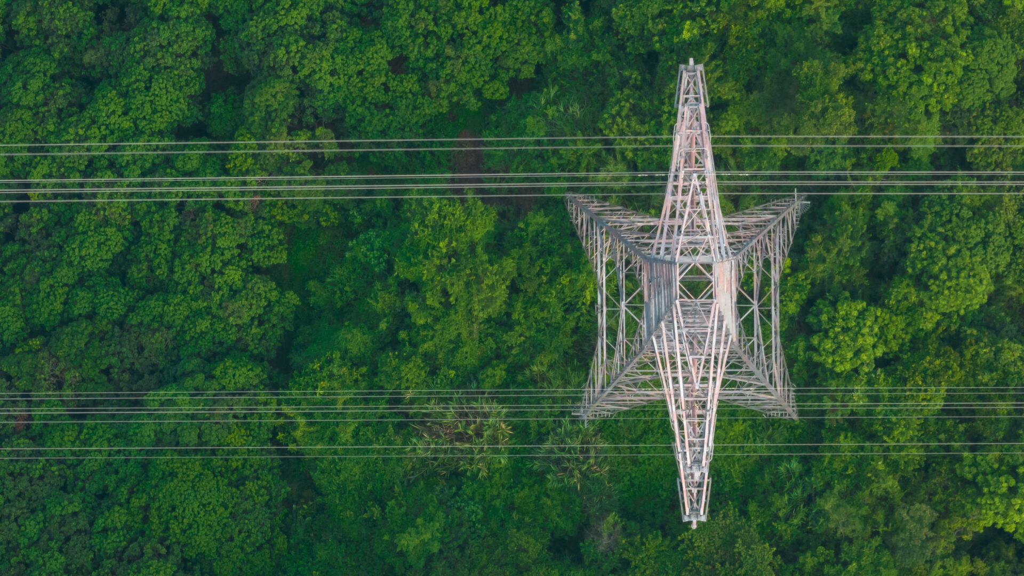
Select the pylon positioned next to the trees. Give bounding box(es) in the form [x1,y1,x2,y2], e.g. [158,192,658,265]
[560,55,815,532]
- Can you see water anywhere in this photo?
No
